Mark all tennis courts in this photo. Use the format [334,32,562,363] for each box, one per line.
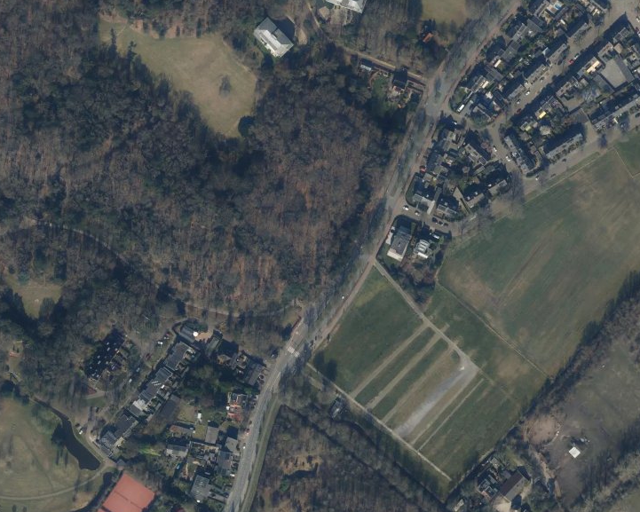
[104,491,144,512]
[114,473,155,509]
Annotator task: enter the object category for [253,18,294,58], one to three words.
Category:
building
